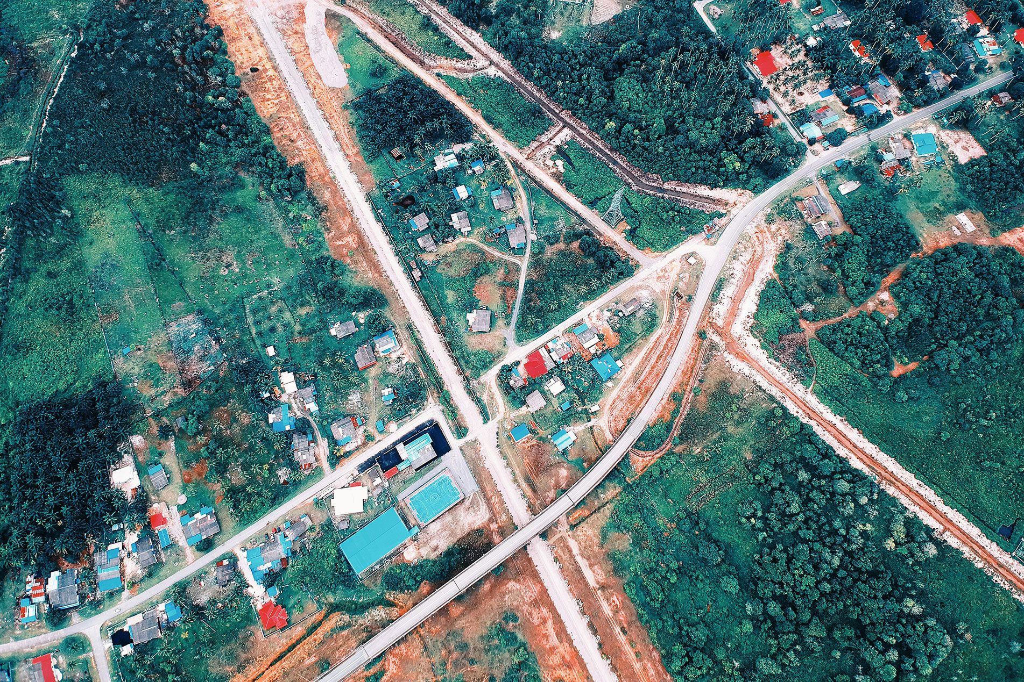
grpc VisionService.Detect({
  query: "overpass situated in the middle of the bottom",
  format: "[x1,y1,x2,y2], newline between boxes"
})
[310,310,700,682]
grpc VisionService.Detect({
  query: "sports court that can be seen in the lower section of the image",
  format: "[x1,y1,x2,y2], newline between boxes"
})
[406,471,465,527]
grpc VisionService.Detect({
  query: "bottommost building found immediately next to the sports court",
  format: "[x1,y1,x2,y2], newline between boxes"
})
[340,507,420,575]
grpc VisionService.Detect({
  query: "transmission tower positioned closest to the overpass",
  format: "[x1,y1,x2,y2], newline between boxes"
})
[600,191,624,228]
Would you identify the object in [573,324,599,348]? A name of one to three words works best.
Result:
house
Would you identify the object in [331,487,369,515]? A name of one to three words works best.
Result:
building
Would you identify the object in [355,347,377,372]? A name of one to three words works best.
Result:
house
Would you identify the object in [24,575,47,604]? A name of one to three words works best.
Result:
shed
